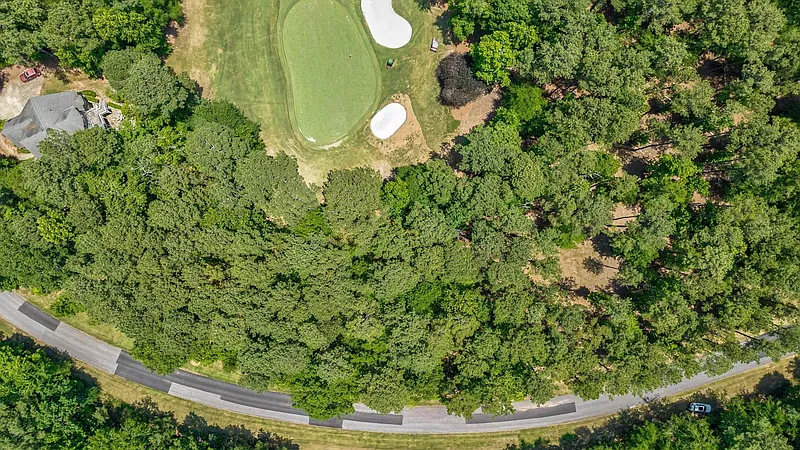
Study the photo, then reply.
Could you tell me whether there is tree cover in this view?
Yes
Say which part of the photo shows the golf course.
top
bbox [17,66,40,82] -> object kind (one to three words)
car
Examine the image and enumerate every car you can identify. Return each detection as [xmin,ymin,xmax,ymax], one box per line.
[690,402,712,414]
[17,66,40,82]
